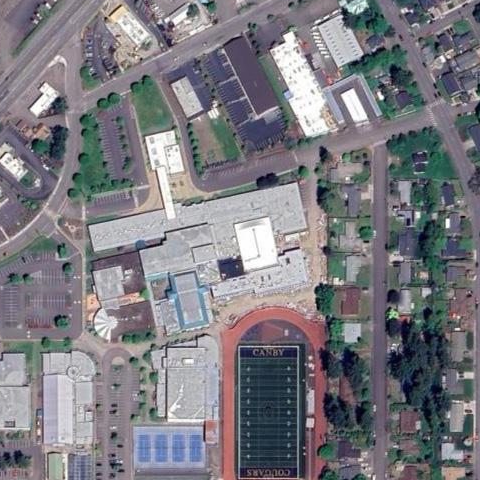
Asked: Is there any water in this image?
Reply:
No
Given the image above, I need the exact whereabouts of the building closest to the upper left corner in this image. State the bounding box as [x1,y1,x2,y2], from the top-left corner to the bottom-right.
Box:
[30,81,59,116]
